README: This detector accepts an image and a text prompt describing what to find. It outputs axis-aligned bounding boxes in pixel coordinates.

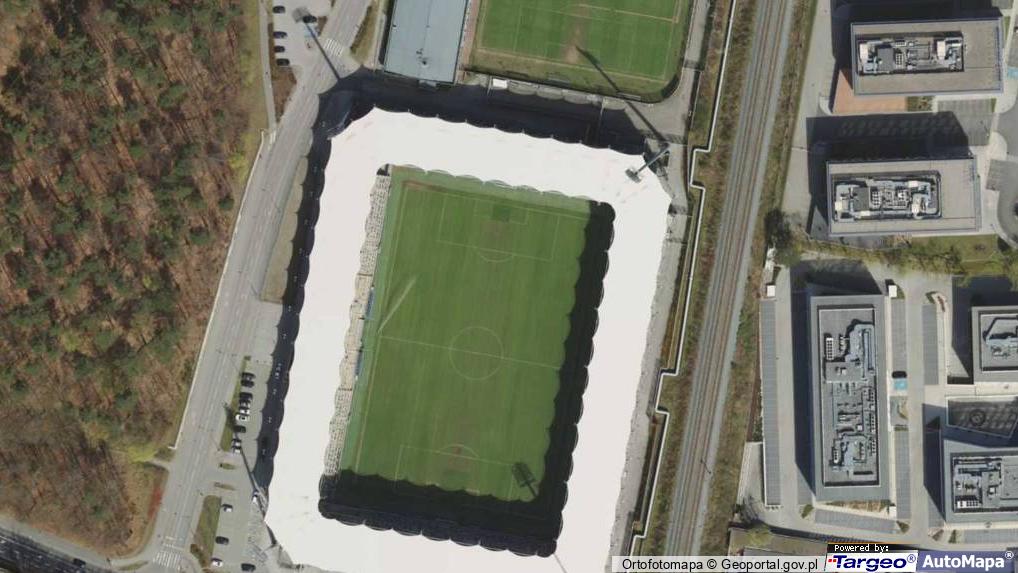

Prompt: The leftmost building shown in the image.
[385,0,471,88]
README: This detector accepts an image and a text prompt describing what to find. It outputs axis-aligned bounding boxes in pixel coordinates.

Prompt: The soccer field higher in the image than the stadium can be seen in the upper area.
[471,0,698,96]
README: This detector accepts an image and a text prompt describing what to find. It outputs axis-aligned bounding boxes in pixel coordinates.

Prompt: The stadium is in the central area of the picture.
[259,103,673,573]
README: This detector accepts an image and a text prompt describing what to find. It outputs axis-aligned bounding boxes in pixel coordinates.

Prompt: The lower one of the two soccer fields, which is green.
[333,164,617,541]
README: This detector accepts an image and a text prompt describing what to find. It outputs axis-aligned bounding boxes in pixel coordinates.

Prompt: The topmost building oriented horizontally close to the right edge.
[851,17,1003,96]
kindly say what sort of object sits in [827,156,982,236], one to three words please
building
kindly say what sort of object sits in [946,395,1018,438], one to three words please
building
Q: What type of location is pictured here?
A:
sports ground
